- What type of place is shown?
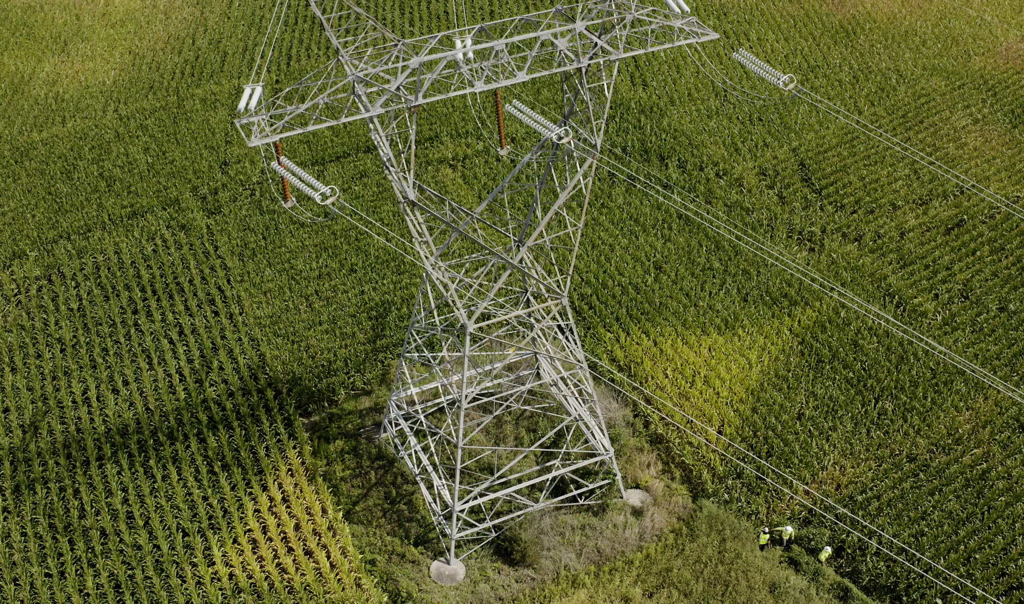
farmland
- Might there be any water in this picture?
No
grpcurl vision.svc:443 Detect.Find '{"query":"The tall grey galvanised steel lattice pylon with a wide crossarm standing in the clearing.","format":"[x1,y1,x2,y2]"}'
[235,0,719,561]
